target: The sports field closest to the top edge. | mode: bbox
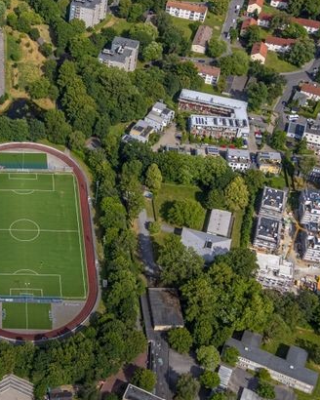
[0,153,47,168]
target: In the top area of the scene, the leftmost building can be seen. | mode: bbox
[69,0,107,34]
